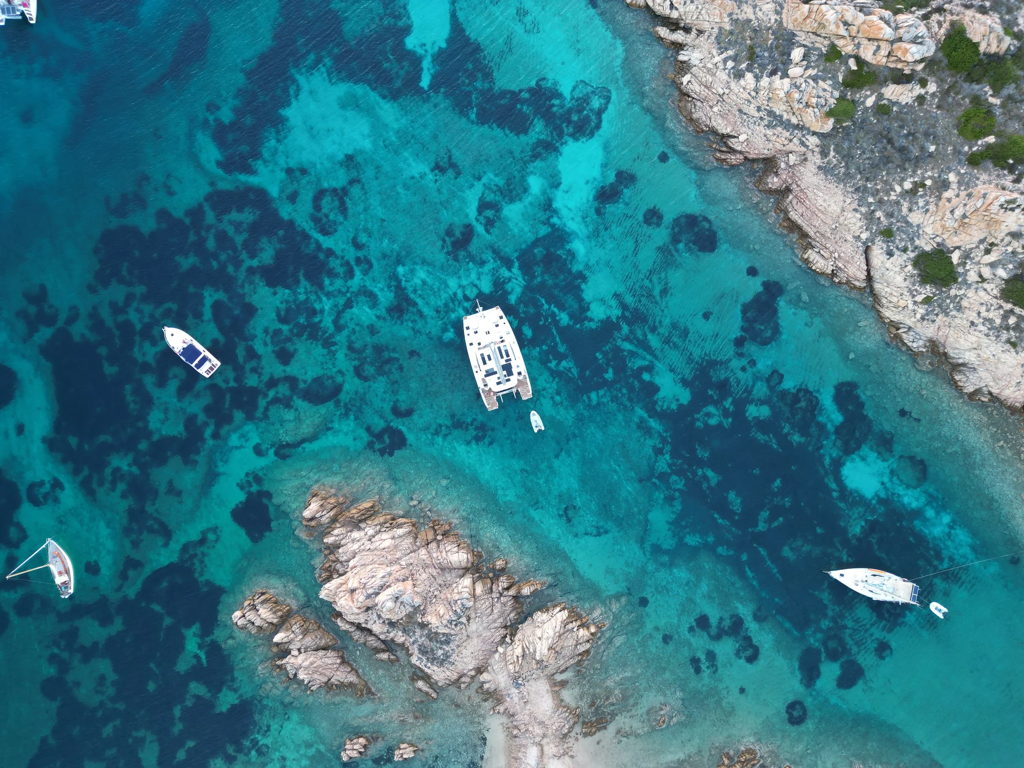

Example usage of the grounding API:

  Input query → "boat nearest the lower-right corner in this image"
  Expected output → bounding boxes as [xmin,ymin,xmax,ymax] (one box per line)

[929,601,948,618]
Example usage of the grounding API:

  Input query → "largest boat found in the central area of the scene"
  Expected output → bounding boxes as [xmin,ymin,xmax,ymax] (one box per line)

[463,300,532,411]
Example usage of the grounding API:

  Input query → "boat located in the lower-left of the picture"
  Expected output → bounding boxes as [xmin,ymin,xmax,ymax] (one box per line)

[7,536,75,599]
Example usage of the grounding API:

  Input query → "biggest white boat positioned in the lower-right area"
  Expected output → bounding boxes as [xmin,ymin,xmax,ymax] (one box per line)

[823,567,921,610]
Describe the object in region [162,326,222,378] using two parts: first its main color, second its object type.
white boat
